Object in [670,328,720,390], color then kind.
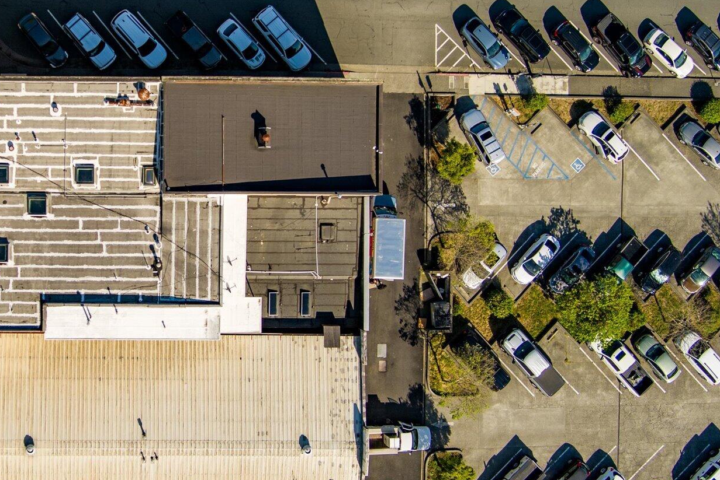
white vehicle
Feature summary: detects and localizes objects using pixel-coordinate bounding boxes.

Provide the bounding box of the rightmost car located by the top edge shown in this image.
[681,18,720,73]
